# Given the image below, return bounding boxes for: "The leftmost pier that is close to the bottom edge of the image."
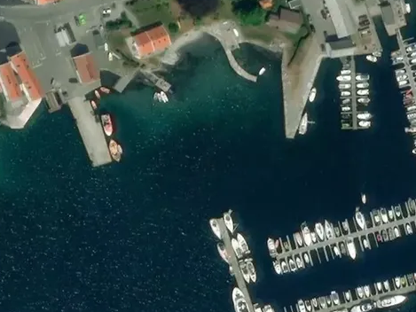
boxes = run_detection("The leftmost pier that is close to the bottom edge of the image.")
[214,217,254,312]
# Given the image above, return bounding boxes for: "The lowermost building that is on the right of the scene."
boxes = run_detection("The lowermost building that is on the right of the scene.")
[324,37,358,58]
